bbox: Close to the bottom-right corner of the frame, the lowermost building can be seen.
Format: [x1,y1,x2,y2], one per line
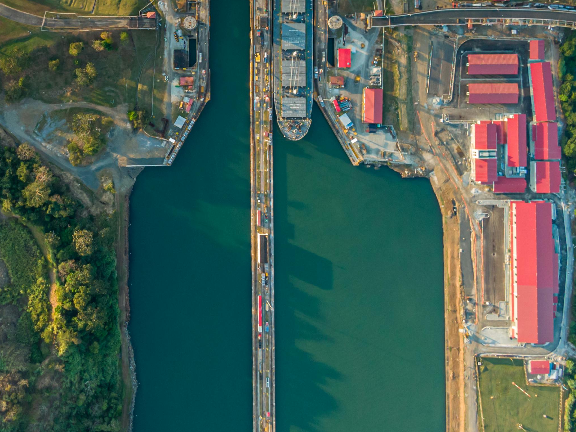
[528,359,550,374]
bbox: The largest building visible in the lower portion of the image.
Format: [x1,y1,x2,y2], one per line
[507,201,553,345]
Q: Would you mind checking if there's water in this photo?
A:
Yes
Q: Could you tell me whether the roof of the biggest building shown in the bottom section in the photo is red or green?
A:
red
